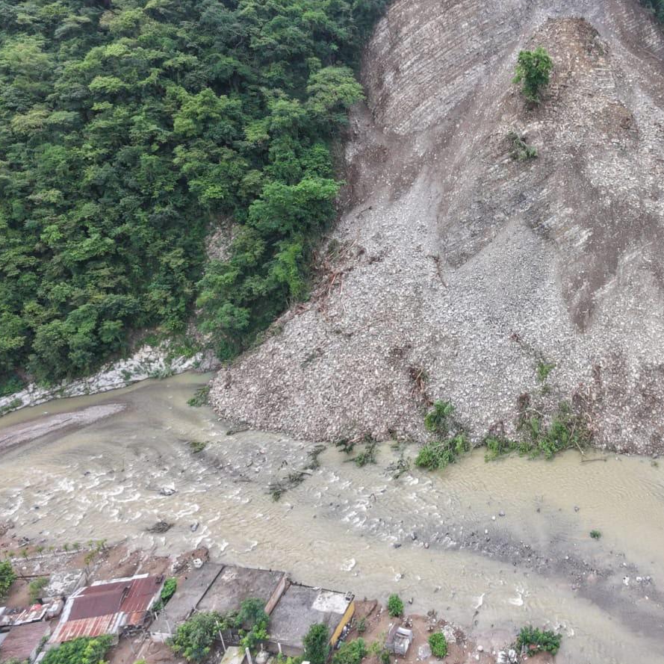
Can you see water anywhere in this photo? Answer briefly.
Yes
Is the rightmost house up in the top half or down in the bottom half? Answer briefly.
bottom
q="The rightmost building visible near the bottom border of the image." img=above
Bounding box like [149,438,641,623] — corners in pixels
[271,582,355,658]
